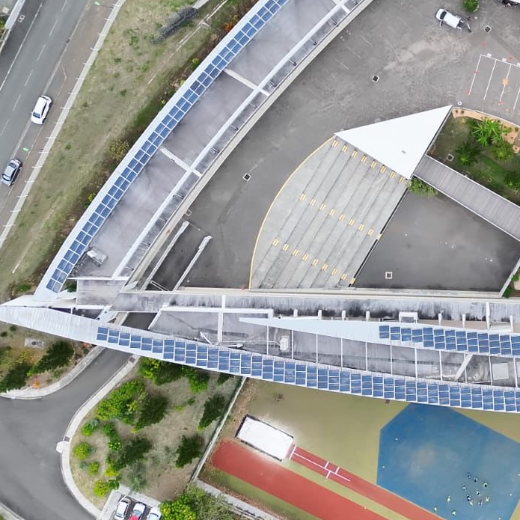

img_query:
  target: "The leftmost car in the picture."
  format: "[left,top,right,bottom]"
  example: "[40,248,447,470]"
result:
[1,159,23,186]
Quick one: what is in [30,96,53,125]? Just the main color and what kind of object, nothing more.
white car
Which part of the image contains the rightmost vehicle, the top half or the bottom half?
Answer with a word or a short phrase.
top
